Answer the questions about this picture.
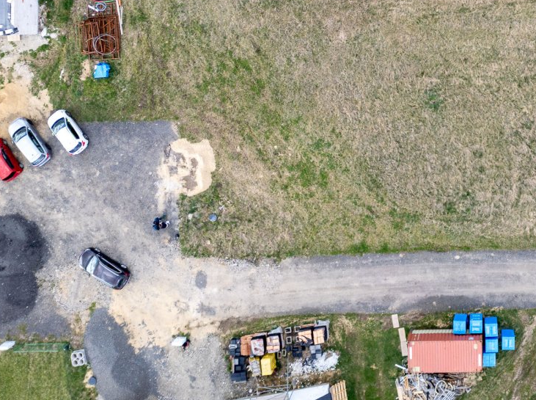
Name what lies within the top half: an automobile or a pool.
automobile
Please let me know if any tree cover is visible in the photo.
No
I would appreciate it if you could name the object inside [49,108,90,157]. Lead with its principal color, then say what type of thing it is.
white car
